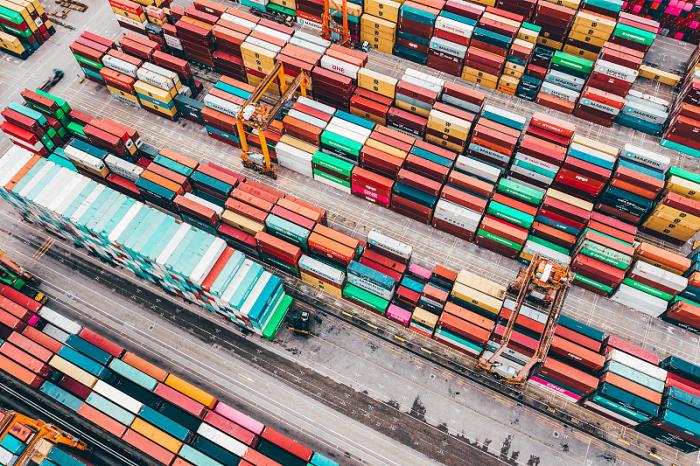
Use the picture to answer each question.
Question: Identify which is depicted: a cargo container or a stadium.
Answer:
cargo container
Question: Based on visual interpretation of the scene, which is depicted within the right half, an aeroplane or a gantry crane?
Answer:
gantry crane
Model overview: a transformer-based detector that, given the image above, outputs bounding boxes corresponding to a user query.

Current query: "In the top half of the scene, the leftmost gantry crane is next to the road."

[231,59,310,178]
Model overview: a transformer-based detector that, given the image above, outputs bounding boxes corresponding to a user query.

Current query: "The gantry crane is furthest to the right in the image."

[470,247,577,392]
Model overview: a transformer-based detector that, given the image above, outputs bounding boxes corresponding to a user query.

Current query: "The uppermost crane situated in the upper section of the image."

[319,0,355,46]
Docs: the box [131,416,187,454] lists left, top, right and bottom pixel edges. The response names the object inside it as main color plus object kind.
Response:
orange shipping container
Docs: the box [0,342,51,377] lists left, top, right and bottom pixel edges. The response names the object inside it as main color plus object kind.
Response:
red shipping container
